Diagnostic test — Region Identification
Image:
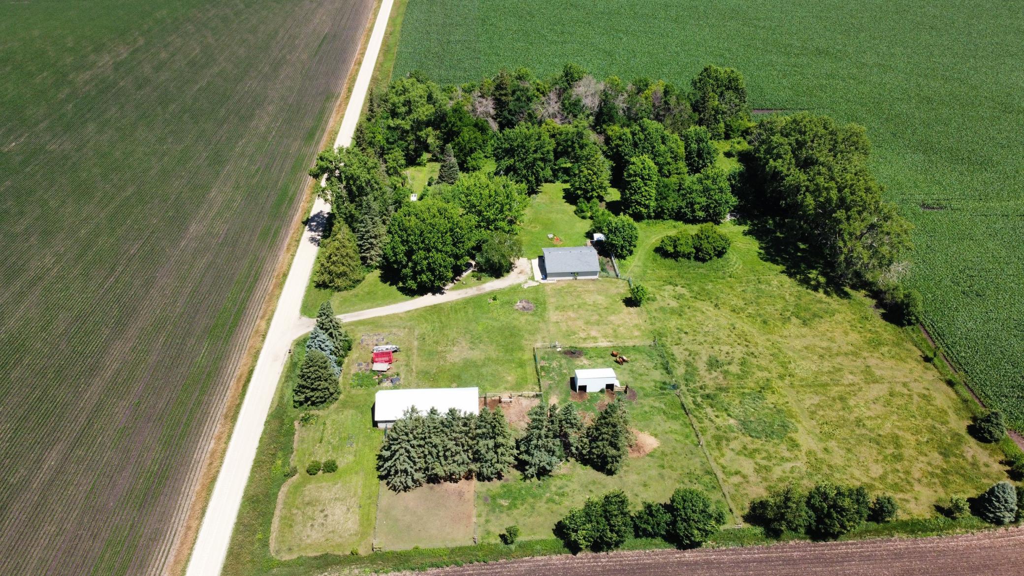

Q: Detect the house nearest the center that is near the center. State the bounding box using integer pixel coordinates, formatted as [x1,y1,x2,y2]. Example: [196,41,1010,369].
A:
[543,246,601,280]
